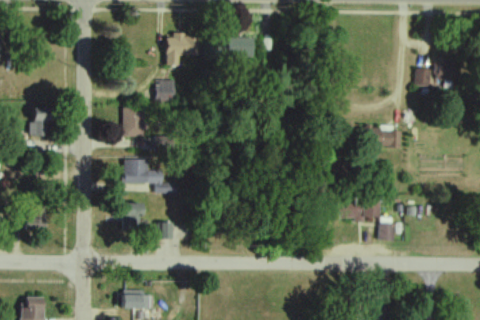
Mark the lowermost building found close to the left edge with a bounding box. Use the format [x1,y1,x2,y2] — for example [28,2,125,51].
[21,297,45,320]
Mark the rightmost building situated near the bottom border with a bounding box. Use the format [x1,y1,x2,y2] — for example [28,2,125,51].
[122,290,154,310]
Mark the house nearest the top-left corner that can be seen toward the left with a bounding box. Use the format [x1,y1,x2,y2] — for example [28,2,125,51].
[29,109,46,136]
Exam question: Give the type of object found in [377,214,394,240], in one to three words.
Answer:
house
